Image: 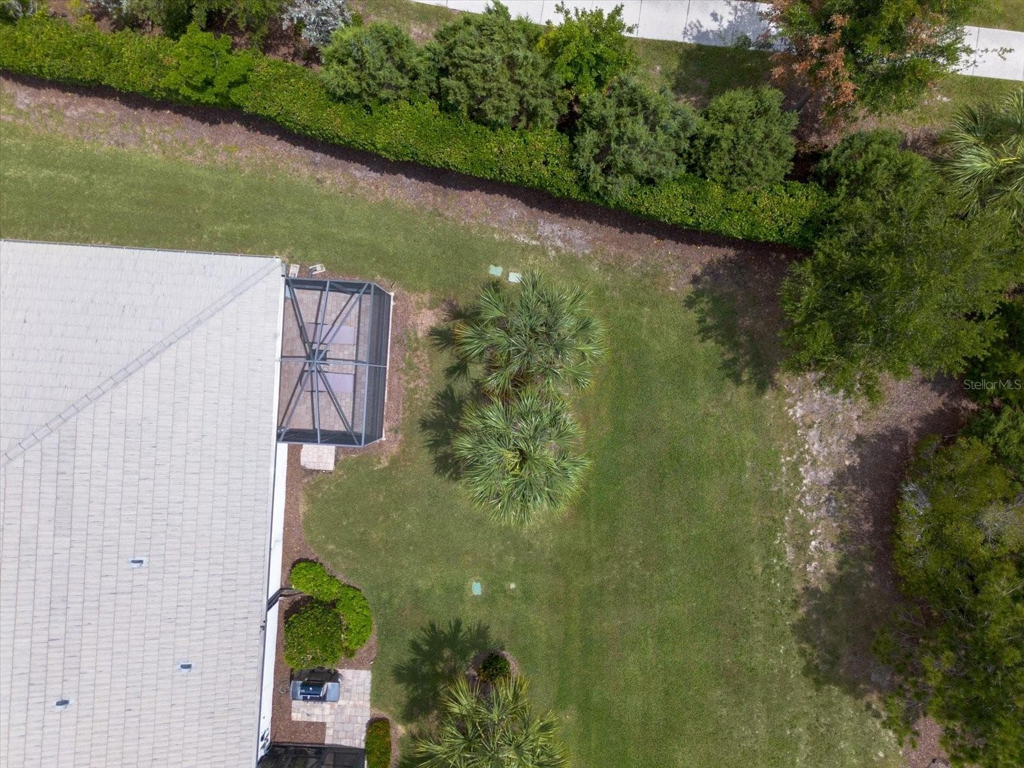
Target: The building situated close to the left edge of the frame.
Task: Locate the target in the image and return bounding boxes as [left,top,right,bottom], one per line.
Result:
[0,239,300,768]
